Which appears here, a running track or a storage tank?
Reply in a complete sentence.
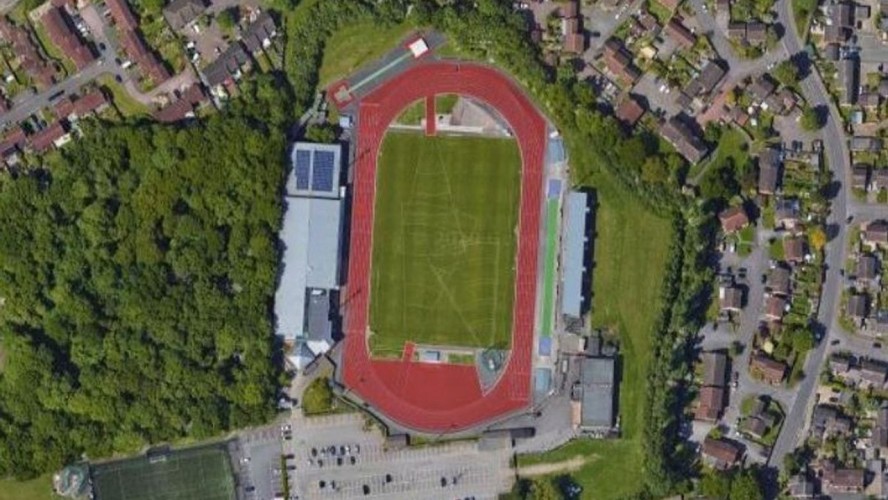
This aerial view contains a running track.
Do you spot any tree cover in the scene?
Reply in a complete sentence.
Yes, there's tree cover in this view.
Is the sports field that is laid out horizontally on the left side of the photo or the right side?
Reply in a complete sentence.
You can find the sports field that is laid out horizontally on the left side of the picture.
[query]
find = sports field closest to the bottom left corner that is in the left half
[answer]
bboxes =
[90,440,238,500]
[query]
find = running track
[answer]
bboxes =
[342,62,547,432]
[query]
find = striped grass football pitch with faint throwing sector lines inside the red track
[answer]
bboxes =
[367,94,523,361]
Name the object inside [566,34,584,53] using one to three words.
house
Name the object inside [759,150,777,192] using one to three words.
house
